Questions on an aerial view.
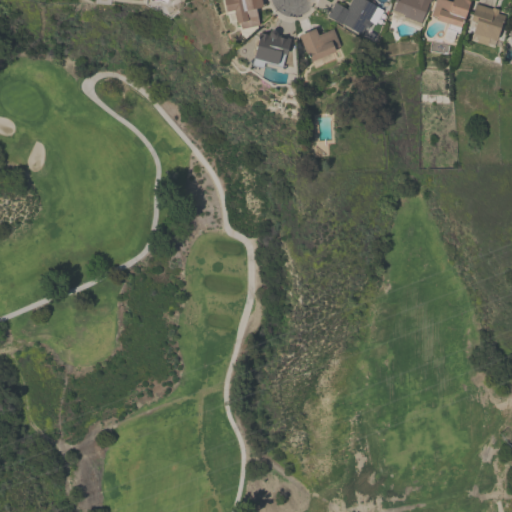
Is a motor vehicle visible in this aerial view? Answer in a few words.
No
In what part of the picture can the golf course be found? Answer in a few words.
left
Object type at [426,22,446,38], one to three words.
swimming pool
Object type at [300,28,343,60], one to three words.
house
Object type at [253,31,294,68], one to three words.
house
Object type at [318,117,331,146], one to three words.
swimming pool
